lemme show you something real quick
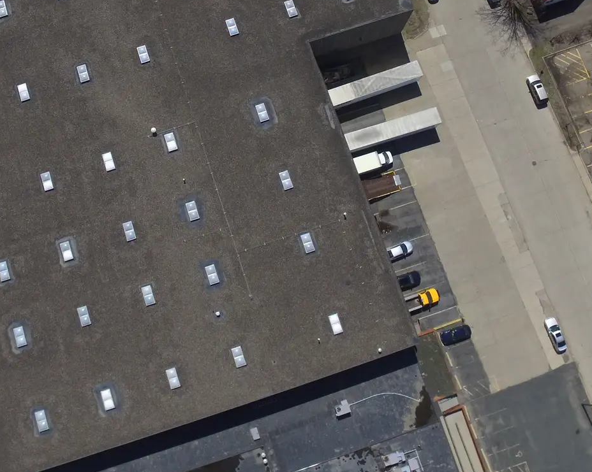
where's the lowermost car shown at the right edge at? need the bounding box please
[544,317,568,354]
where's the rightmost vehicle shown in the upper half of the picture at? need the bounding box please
[526,75,548,106]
